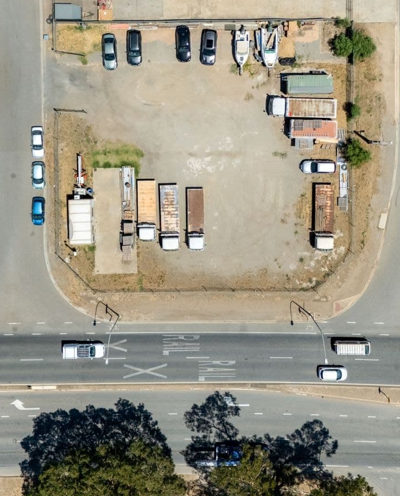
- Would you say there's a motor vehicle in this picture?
Yes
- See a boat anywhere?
Yes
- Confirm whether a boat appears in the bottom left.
No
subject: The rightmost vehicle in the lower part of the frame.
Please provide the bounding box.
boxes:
[333,338,369,355]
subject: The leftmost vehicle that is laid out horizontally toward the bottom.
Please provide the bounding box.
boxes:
[62,342,105,360]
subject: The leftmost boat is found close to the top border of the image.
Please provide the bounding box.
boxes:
[233,22,250,72]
